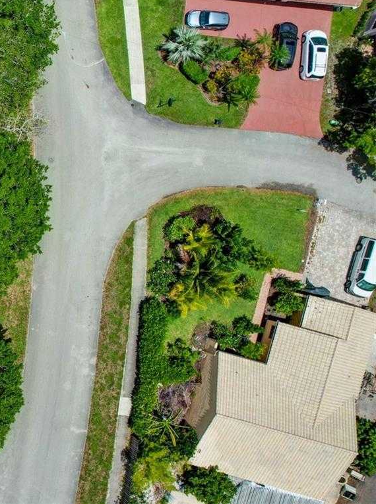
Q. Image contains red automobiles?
No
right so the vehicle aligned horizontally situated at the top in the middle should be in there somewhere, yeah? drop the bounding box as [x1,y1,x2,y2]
[183,6,233,31]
